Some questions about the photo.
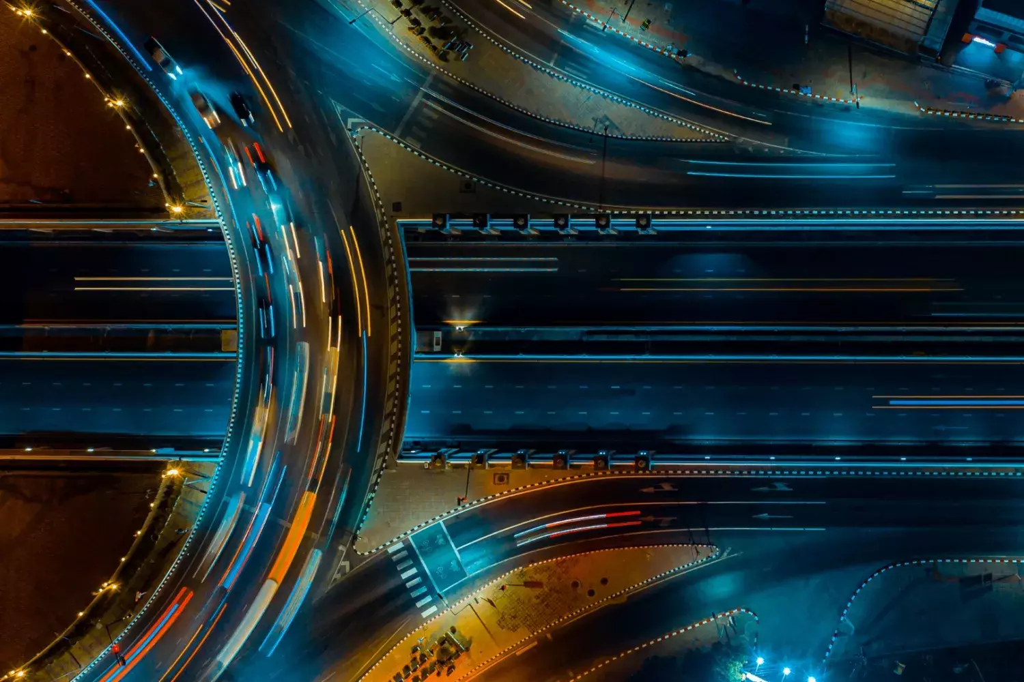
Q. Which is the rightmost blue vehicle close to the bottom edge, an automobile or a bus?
bus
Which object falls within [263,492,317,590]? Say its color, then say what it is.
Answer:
orange bus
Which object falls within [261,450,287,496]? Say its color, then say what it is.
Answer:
blue truck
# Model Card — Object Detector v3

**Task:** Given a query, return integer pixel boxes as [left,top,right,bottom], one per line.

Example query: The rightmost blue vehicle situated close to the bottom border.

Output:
[253,551,321,661]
